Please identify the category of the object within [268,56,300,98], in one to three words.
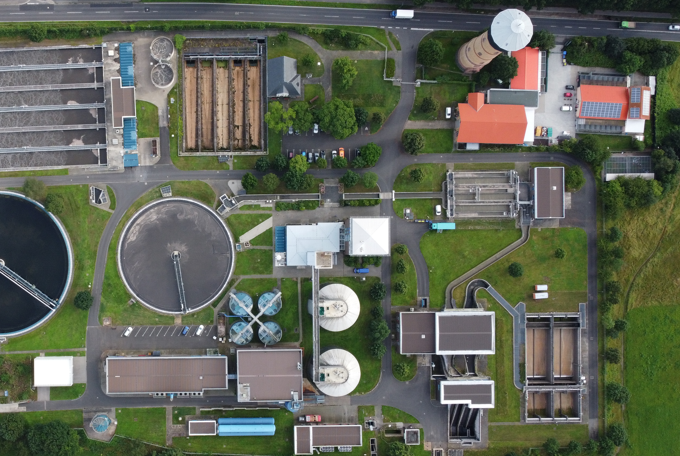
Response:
house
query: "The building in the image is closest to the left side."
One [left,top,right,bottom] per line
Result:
[35,357,75,385]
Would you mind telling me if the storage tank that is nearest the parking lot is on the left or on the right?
left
